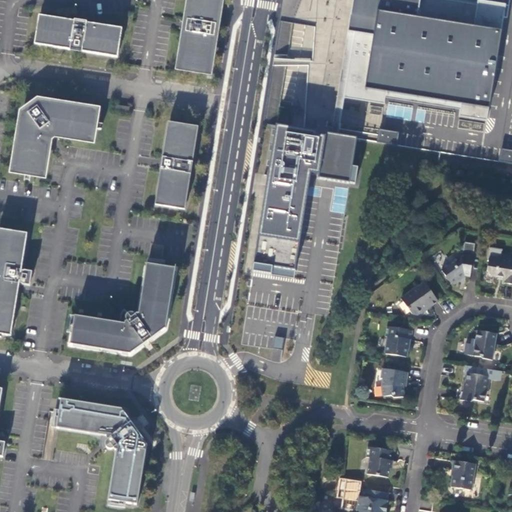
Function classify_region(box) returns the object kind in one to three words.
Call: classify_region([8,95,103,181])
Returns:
building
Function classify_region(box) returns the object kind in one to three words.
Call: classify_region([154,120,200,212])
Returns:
building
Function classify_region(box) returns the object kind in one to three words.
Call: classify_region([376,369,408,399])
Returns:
house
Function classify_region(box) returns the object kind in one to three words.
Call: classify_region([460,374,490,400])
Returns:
house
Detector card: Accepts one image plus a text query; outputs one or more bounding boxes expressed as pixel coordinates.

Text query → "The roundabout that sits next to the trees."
[156,352,235,432]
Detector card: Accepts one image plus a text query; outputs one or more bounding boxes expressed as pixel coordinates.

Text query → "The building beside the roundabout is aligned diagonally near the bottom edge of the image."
[54,397,149,512]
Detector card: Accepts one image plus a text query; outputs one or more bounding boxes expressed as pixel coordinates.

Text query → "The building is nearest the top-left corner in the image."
[33,12,124,61]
